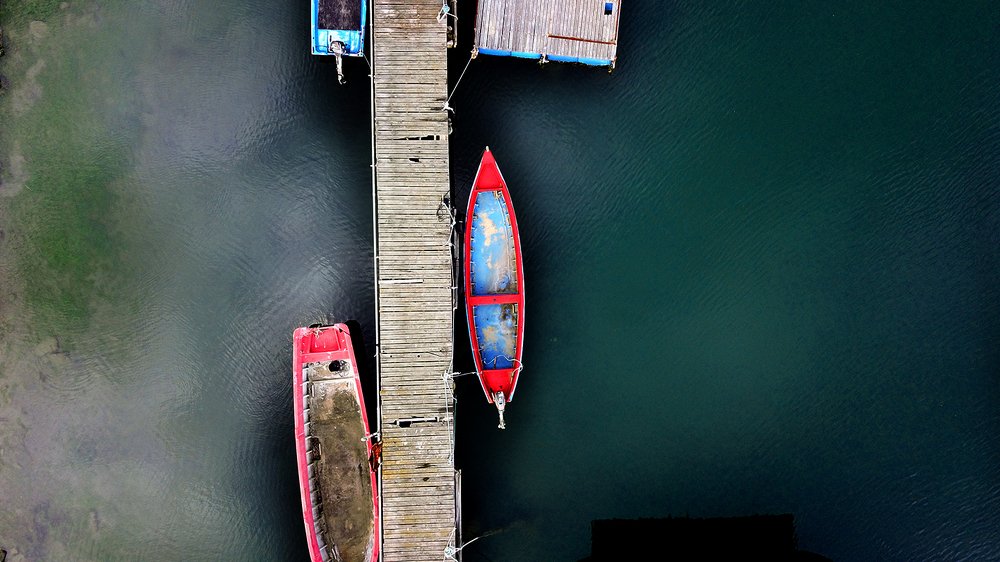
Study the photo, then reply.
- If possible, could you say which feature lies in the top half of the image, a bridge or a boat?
boat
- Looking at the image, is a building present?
No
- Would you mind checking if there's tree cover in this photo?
No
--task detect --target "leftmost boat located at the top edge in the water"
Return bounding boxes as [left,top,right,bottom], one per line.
[311,0,368,83]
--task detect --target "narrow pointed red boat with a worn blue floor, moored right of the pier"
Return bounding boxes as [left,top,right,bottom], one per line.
[464,148,525,430]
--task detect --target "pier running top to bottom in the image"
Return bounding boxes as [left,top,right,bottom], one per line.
[369,0,462,562]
